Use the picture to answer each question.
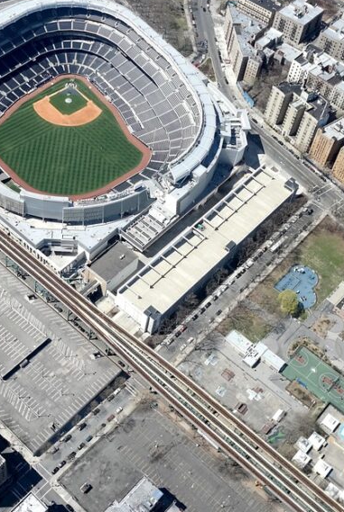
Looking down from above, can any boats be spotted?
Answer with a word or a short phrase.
No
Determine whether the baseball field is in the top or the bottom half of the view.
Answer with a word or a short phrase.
top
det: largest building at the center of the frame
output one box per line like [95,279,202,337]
[116,163,298,334]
